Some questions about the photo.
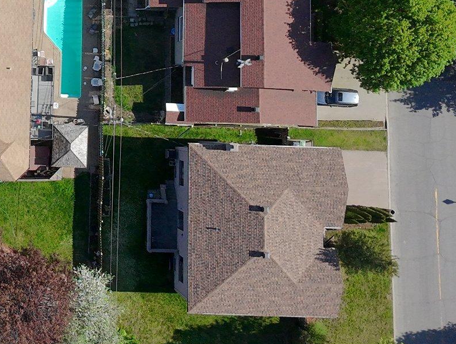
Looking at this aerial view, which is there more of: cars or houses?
houses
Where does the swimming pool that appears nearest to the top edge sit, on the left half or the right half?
left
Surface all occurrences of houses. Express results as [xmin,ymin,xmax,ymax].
[176,143,349,318]
[146,0,338,128]
[0,0,33,182]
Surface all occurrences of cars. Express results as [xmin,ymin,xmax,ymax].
[318,89,359,109]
